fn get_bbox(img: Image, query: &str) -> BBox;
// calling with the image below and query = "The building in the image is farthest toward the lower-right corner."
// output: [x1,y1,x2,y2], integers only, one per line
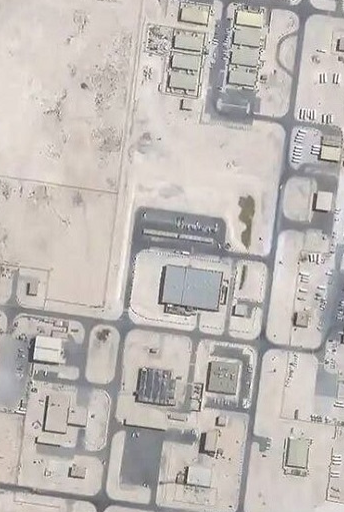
[285,437,310,469]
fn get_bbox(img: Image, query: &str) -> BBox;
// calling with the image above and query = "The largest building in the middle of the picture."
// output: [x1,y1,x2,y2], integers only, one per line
[162,265,224,311]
